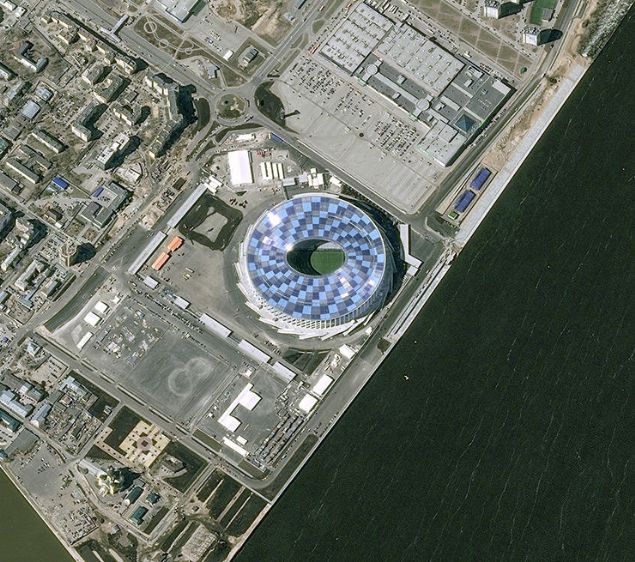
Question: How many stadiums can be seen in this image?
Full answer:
I count just 1 stadium.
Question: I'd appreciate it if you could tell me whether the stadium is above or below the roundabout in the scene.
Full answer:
Looking at the scene, the stadium is located below the roundabout.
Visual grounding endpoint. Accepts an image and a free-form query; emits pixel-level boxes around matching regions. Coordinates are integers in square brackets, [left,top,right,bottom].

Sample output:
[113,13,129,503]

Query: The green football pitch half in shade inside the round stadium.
[287,246,345,275]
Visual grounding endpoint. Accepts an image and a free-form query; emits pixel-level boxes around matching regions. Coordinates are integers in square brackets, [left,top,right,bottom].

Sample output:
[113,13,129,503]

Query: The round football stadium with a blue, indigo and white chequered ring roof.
[234,192,398,343]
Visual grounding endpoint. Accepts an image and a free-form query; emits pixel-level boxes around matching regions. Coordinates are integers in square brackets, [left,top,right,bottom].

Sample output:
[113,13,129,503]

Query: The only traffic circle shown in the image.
[208,85,254,127]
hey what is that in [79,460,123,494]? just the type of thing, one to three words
building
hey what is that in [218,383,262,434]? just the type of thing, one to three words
building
